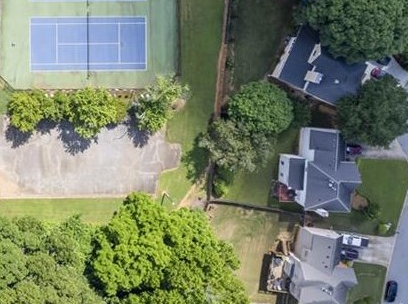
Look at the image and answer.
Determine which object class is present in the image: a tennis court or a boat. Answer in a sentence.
Visible in the photo is a tennis court.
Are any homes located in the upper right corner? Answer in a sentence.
Yes, a home can be seen in the upper right corner.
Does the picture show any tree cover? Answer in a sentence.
Yes, there is tree cover in the image.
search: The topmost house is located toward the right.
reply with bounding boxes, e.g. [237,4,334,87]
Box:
[271,25,373,112]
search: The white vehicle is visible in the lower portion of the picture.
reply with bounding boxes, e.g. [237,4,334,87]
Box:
[340,235,370,248]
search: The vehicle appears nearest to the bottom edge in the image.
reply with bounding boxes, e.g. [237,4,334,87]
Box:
[384,279,399,304]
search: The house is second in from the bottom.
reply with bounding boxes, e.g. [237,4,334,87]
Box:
[282,131,366,219]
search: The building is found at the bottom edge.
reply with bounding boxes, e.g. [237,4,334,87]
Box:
[283,229,363,304]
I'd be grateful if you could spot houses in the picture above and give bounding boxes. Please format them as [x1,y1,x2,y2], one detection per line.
[271,25,373,112]
[283,229,363,304]
[282,131,366,219]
